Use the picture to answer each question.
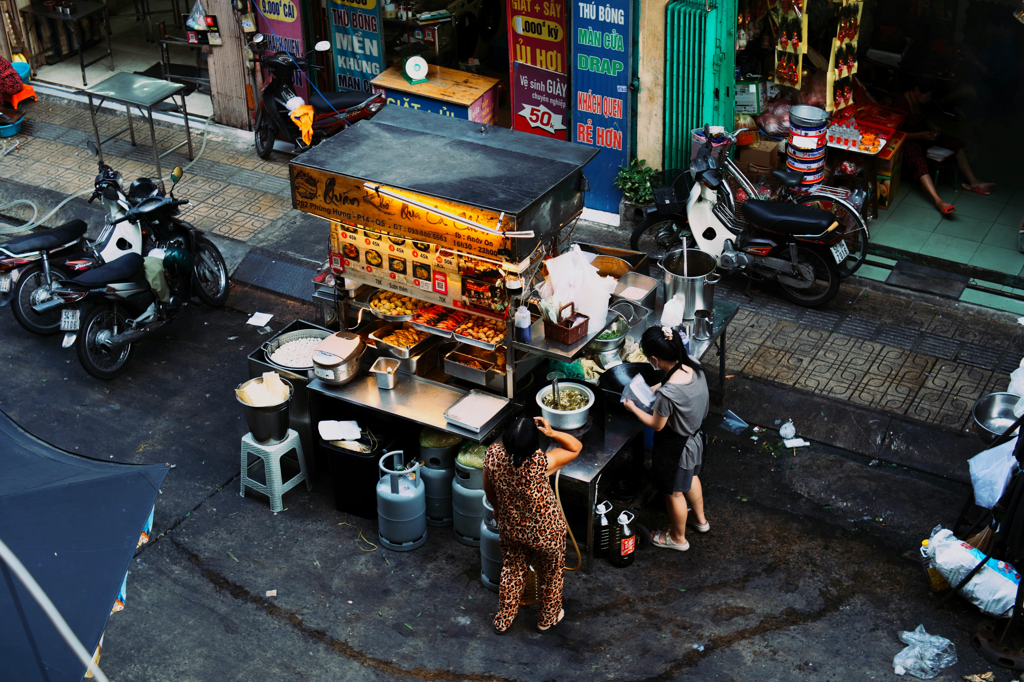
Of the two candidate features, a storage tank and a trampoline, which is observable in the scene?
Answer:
storage tank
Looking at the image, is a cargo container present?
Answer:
No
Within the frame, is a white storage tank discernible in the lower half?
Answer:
No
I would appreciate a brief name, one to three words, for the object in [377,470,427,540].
storage tank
